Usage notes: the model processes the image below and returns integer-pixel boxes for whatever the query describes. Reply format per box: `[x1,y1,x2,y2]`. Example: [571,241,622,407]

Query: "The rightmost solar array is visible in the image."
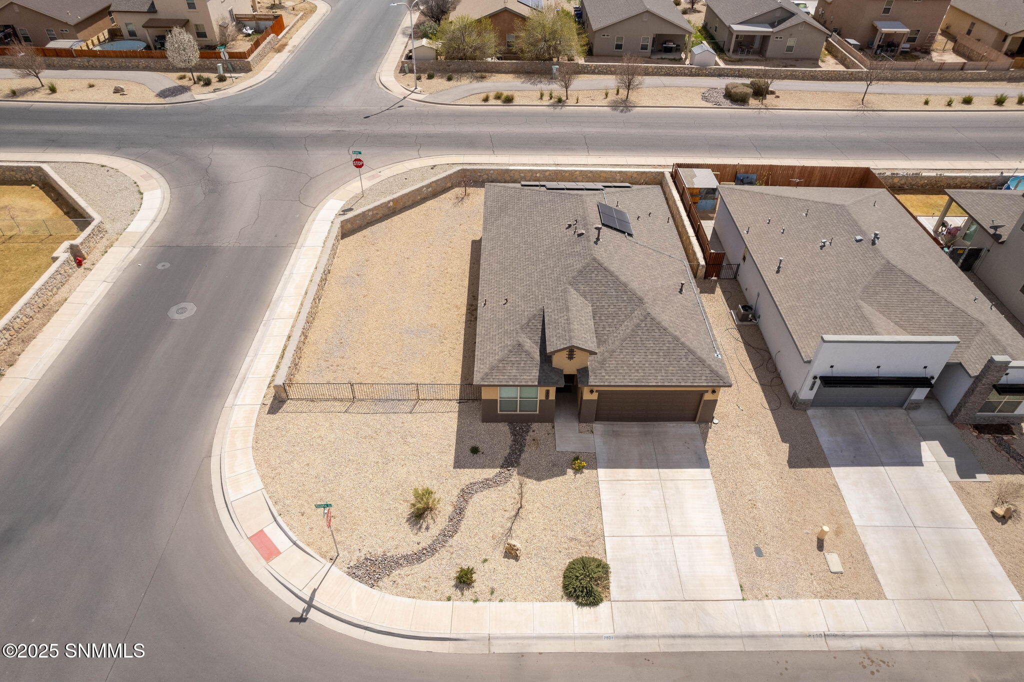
[598,202,633,235]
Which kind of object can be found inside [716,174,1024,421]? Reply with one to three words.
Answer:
house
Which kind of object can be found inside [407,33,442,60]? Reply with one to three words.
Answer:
shed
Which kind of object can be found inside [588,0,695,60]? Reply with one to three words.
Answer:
house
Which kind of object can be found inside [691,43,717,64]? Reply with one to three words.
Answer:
shed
